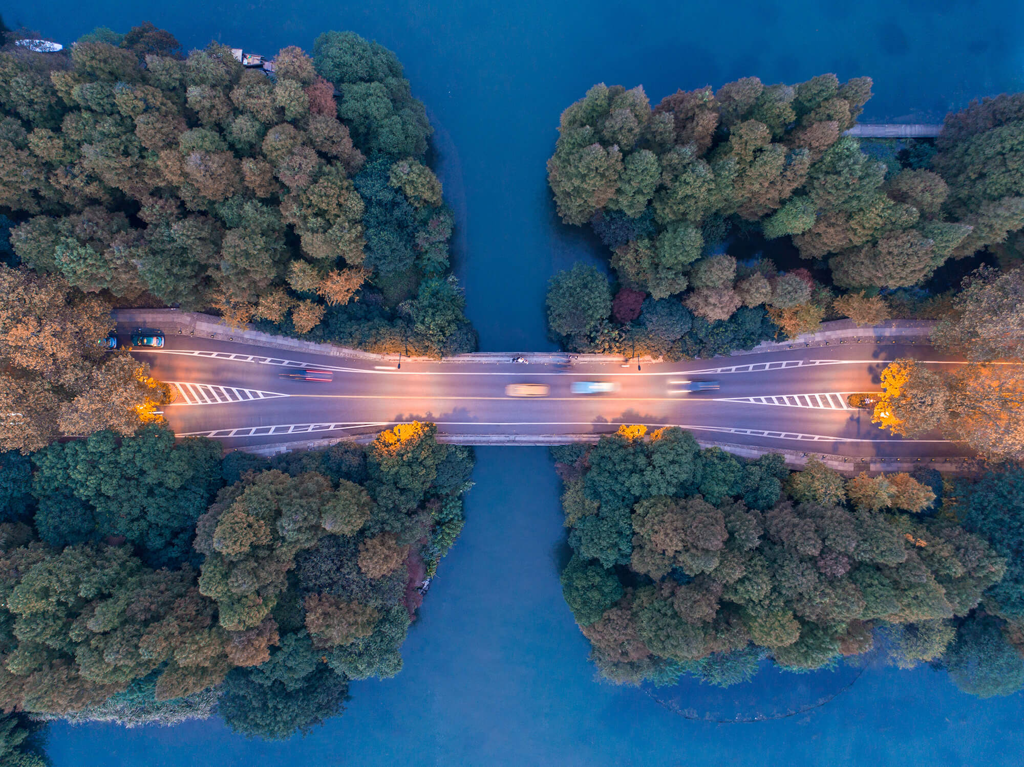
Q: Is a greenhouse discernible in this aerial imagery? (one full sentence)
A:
No, the frame has no greenhouse in it.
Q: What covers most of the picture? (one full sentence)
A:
What you mostly see from above here is trees.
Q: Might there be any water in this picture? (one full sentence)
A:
Yes, the picture does contain water.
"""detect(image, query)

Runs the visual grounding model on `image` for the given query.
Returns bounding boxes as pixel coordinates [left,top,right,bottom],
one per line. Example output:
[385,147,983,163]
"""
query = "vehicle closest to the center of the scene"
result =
[511,383,544,398]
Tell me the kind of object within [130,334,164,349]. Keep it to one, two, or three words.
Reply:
car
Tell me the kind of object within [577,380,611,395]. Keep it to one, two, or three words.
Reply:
car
